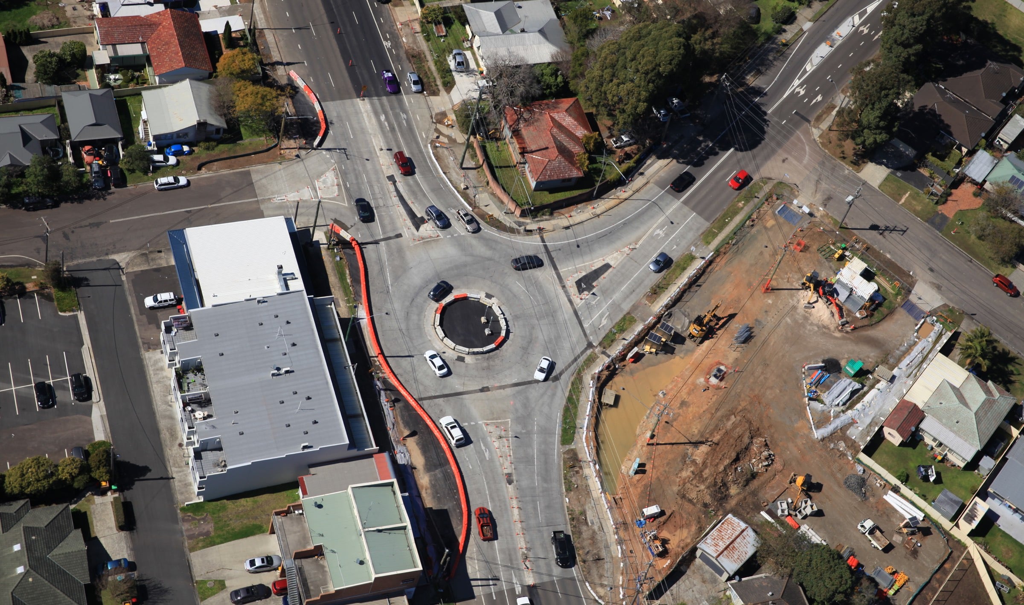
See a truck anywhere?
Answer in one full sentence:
Yes, the frame does contain a truck.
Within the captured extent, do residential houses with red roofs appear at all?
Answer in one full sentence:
Yes, a residential house with a red roof is visible in the scene.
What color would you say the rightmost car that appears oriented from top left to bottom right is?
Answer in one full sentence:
From above, the rightmost car that appears oriented from top left to bottom right appears red.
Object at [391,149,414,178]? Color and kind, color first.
red car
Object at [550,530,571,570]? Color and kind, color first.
black truck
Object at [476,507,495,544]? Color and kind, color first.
red vehicle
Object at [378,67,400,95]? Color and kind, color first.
purple truck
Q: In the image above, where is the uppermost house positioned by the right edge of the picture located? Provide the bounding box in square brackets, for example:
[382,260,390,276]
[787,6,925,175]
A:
[943,61,1024,121]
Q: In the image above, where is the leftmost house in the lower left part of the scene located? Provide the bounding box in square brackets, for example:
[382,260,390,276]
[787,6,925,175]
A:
[0,499,90,605]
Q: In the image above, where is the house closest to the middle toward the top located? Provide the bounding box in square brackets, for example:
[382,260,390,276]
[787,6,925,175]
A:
[507,97,592,192]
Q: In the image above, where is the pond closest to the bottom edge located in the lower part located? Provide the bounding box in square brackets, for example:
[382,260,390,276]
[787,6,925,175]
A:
[596,357,704,499]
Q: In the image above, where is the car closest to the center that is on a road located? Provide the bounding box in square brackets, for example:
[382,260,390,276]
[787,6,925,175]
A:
[510,254,544,272]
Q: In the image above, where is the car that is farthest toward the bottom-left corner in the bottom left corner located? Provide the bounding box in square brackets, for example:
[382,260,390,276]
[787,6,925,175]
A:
[96,557,134,579]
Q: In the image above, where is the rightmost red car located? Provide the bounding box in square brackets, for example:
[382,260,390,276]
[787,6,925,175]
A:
[989,272,1022,299]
